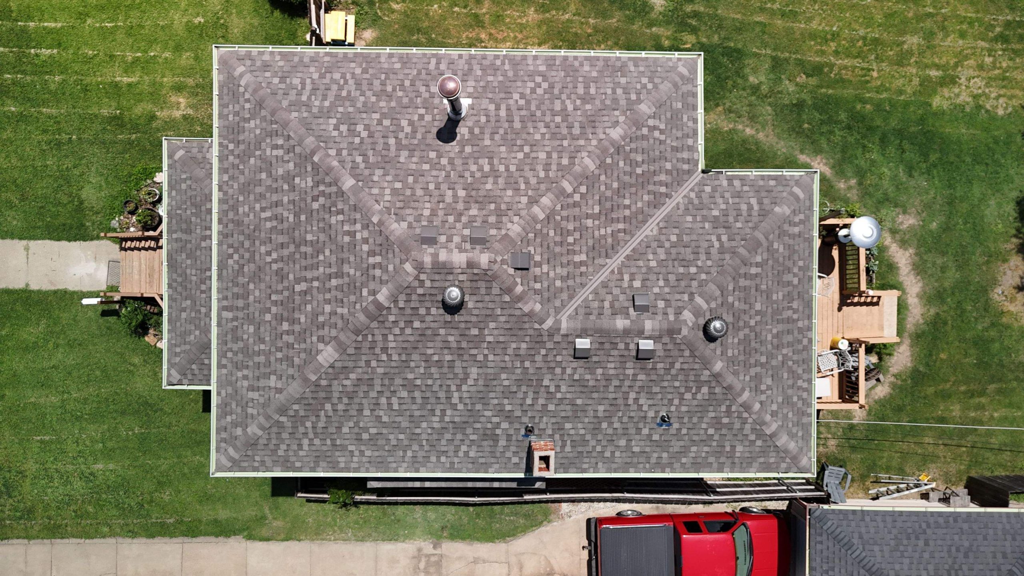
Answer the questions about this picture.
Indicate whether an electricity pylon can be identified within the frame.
No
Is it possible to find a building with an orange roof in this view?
No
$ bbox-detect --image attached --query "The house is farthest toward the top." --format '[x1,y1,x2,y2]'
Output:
[163,45,819,487]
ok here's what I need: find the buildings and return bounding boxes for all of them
[163,45,819,487]
[793,499,1024,576]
